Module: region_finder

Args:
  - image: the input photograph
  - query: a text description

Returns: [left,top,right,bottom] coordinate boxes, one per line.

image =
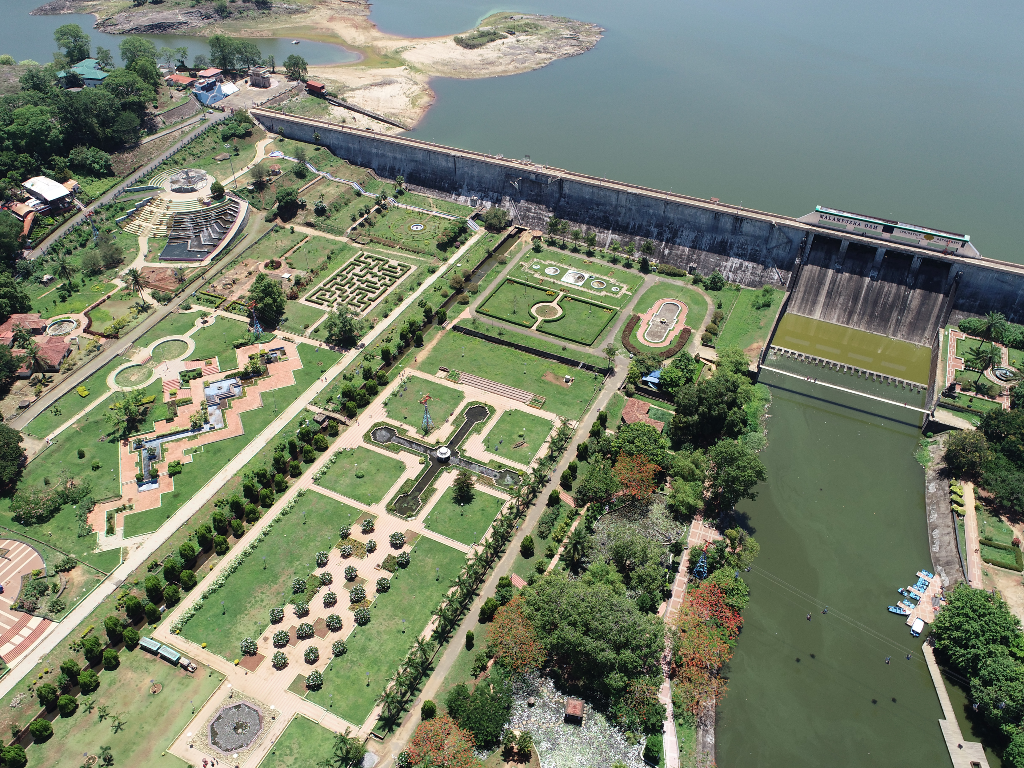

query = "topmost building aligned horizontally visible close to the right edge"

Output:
[796,205,981,262]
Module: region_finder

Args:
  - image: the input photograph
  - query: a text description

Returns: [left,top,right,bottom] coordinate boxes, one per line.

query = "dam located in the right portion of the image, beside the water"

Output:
[255,111,1024,356]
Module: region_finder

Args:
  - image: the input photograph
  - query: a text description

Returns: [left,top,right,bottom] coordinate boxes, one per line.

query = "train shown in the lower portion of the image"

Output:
[131,635,197,676]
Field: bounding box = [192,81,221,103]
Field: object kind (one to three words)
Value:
building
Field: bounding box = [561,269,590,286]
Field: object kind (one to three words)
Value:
fountain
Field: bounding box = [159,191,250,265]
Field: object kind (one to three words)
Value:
fountain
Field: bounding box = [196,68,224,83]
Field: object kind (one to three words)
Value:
building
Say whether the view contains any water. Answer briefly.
Yes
